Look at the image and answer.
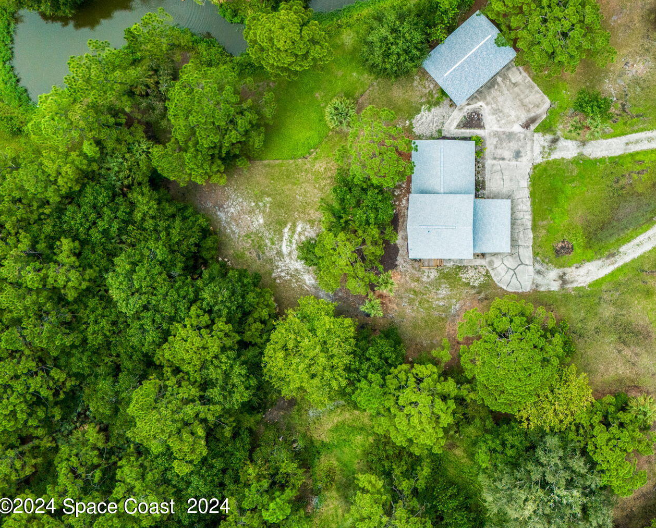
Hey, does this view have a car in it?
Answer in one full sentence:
No, I can't see a single car in this photo.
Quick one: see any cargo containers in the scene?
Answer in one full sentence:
No, the scene contains no cargo container.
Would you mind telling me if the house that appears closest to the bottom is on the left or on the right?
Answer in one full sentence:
It is on the right.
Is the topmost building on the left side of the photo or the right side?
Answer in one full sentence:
The topmost building appears in the right half of the scene.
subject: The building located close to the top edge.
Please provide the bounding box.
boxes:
[422,10,515,105]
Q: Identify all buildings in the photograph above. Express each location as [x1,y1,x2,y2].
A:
[422,10,515,105]
[407,139,511,259]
